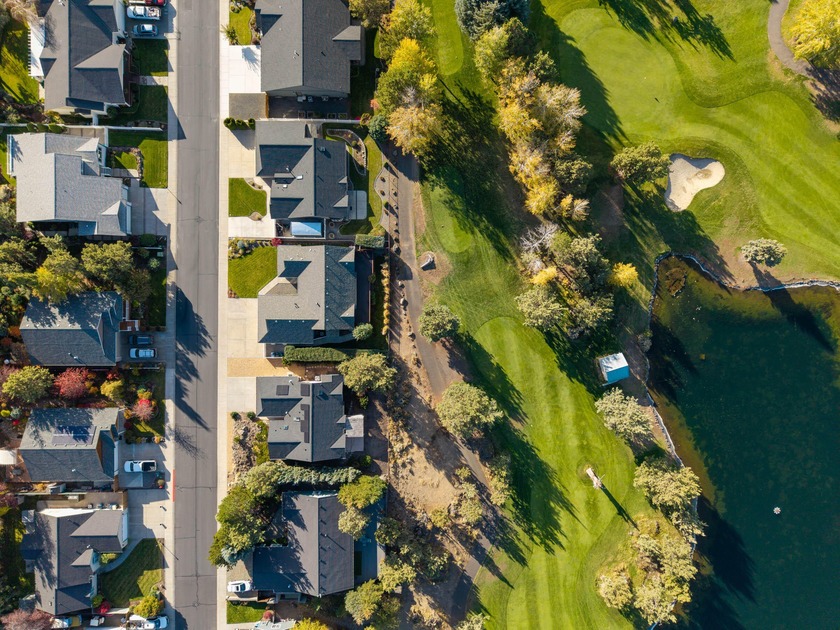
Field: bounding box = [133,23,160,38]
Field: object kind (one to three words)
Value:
car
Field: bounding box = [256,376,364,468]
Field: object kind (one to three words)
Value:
house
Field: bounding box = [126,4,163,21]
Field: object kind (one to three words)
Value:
vehicle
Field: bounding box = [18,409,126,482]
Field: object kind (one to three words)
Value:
house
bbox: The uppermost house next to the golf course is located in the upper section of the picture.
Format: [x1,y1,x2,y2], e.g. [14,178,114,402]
[259,0,361,96]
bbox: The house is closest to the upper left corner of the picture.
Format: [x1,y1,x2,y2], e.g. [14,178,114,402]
[25,0,132,115]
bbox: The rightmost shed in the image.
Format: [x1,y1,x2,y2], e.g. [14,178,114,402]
[595,353,629,383]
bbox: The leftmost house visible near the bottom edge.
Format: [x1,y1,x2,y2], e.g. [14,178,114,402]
[20,505,130,618]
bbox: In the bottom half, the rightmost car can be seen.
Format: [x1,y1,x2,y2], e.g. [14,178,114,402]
[226,579,253,594]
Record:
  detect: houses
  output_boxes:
[2,128,132,238]
[18,409,126,482]
[258,244,356,343]
[25,0,132,115]
[252,491,354,603]
[20,505,130,618]
[259,0,361,96]
[18,291,128,365]
[256,376,364,468]
[256,120,349,218]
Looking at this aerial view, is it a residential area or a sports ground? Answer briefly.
residential area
